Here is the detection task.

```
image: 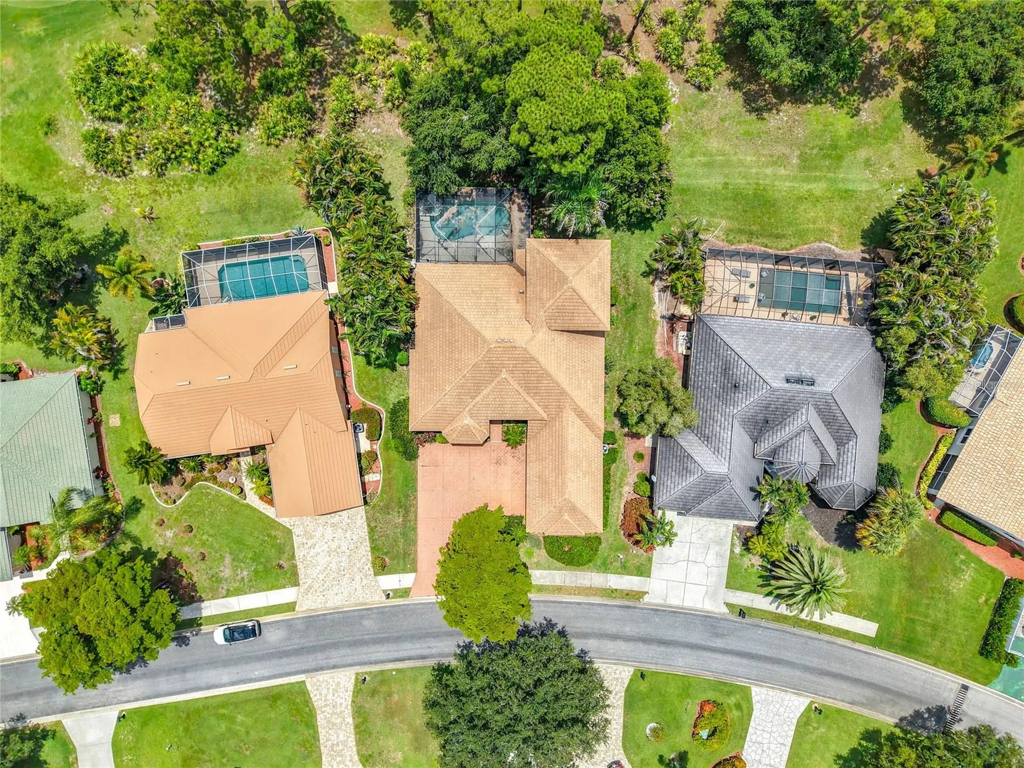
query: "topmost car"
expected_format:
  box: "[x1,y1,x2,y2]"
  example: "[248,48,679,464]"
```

[213,618,264,646]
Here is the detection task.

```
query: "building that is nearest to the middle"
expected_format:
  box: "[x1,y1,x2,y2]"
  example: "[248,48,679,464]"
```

[409,238,612,536]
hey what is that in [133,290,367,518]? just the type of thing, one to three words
house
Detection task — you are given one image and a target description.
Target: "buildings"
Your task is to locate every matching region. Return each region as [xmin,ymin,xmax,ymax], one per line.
[925,308,1024,541]
[0,373,111,580]
[409,238,612,536]
[651,313,886,522]
[133,290,367,518]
